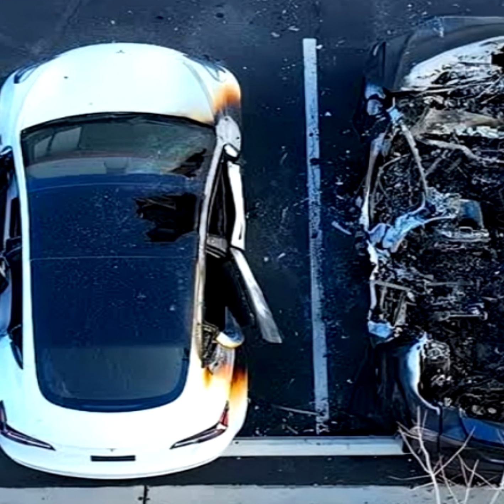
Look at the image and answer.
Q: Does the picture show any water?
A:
No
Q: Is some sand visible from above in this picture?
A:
No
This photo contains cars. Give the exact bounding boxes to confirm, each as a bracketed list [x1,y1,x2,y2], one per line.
[0,42,285,485]
[360,12,504,474]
